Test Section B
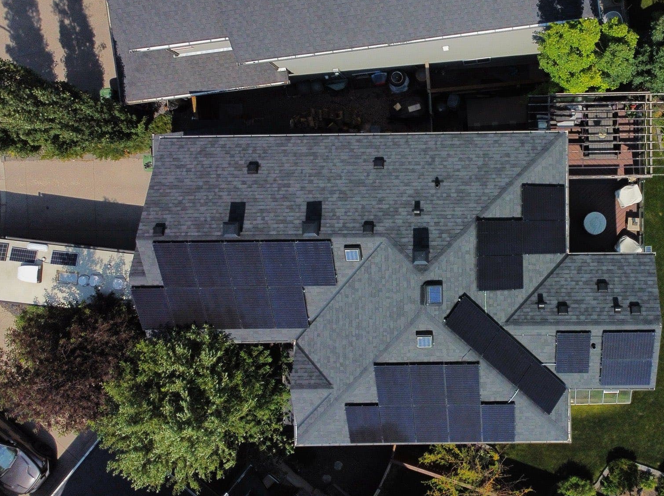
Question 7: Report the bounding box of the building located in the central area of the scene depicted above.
[128,128,662,449]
